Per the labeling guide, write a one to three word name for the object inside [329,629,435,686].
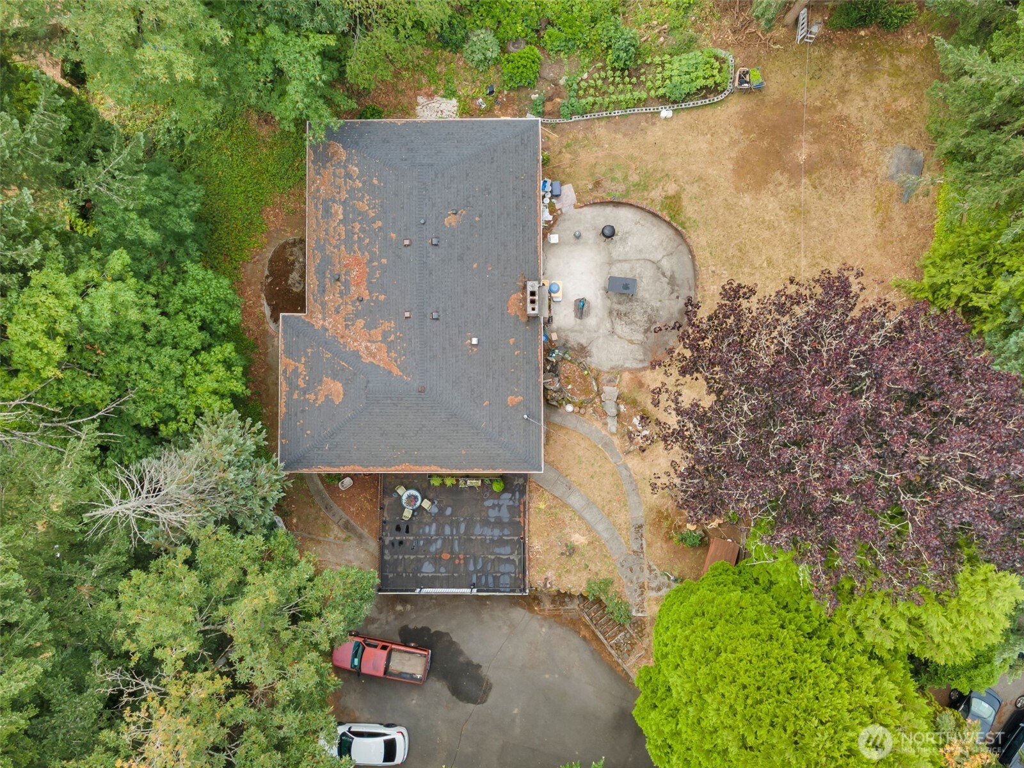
truck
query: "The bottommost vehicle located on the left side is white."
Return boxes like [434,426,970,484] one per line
[323,722,409,768]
